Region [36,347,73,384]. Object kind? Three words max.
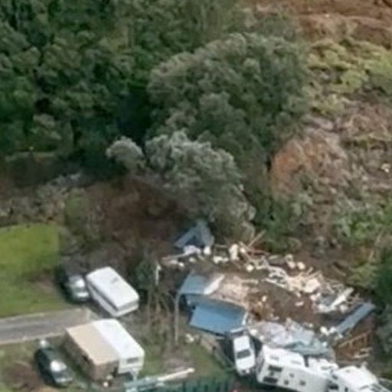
car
